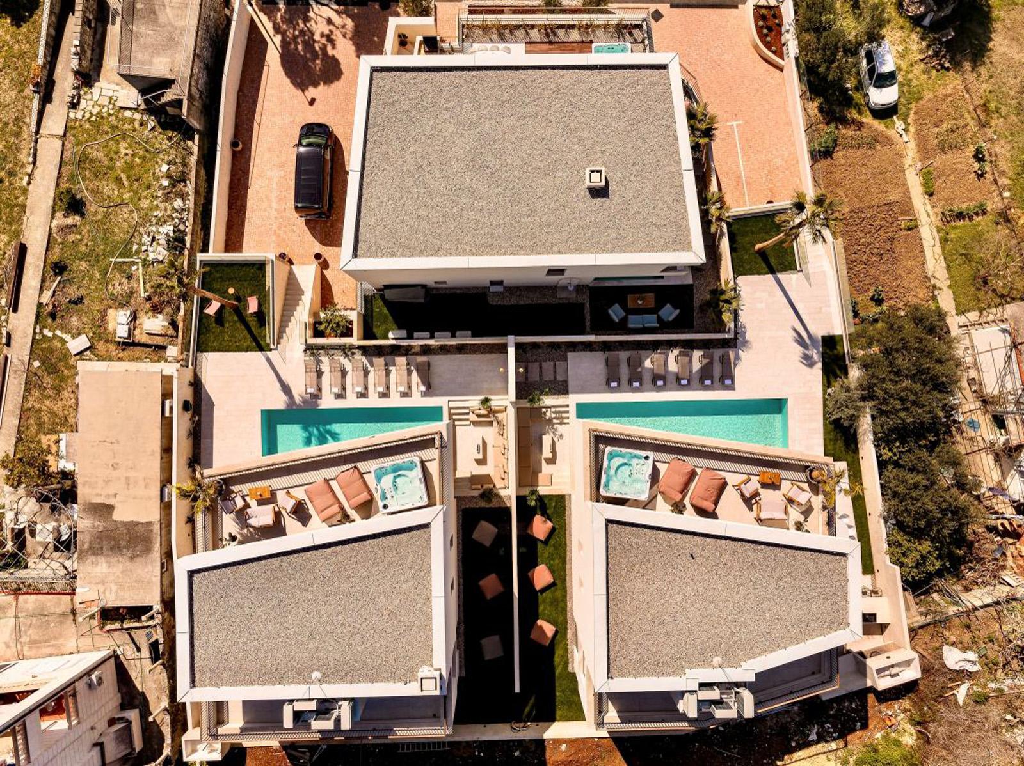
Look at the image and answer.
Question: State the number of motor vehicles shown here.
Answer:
2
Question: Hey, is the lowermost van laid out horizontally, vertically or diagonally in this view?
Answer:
vertically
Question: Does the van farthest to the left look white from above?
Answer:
No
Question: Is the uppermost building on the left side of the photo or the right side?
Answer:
left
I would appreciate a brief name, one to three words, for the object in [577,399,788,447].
swimming pool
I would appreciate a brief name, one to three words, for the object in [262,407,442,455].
swimming pool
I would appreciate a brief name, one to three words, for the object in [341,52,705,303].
house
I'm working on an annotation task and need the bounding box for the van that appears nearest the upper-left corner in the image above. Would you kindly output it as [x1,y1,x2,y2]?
[292,125,334,219]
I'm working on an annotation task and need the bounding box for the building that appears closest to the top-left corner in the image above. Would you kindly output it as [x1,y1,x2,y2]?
[119,0,225,146]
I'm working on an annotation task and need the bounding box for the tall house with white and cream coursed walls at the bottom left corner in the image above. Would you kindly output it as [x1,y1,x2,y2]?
[0,651,127,766]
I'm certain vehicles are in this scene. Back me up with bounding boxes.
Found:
[856,42,900,118]
[292,125,334,219]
